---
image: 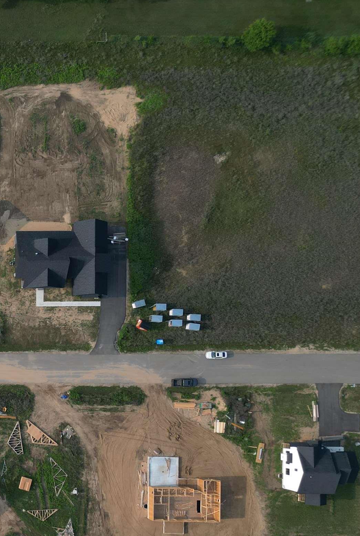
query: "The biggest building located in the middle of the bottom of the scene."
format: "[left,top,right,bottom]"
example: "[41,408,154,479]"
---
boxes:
[142,455,221,534]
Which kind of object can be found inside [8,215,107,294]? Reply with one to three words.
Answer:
house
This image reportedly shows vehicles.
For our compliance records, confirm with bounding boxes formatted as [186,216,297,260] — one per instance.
[170,377,198,388]
[205,350,228,360]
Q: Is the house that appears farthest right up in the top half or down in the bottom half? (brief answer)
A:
bottom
